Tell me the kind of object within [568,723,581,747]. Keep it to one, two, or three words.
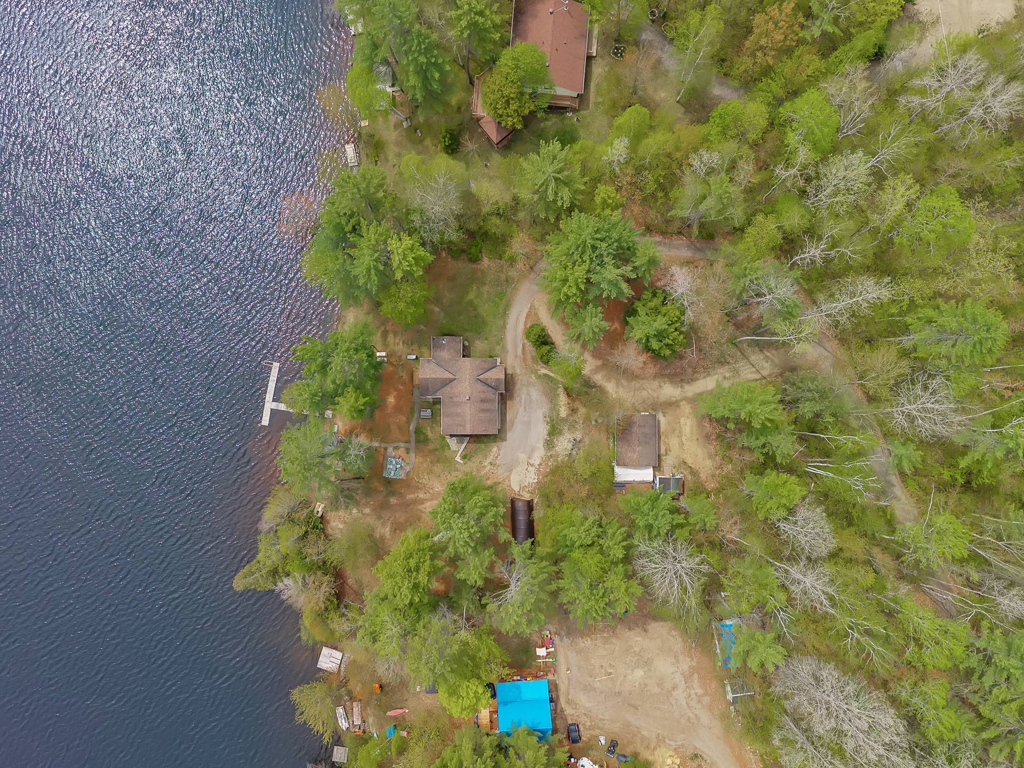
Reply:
vehicle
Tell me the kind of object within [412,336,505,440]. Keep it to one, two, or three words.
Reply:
house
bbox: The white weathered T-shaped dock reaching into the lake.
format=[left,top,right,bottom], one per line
[261,362,307,425]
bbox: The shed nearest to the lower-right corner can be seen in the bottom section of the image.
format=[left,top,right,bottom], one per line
[656,476,684,494]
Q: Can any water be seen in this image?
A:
Yes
